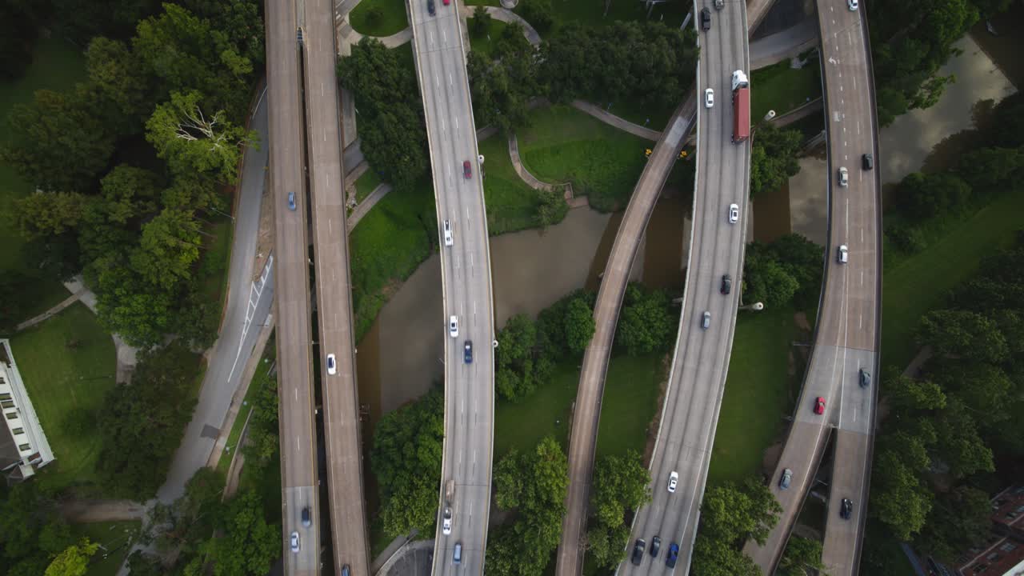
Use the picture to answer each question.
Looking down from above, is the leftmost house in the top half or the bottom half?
bottom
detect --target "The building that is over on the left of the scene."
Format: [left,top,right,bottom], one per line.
[0,335,62,474]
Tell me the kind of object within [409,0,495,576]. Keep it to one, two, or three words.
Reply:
bridge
